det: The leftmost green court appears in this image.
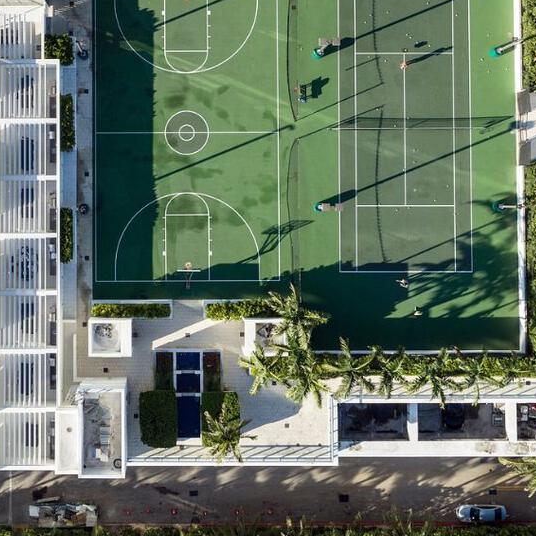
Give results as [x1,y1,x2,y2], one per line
[92,0,297,300]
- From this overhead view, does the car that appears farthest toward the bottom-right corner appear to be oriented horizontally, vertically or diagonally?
horizontally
